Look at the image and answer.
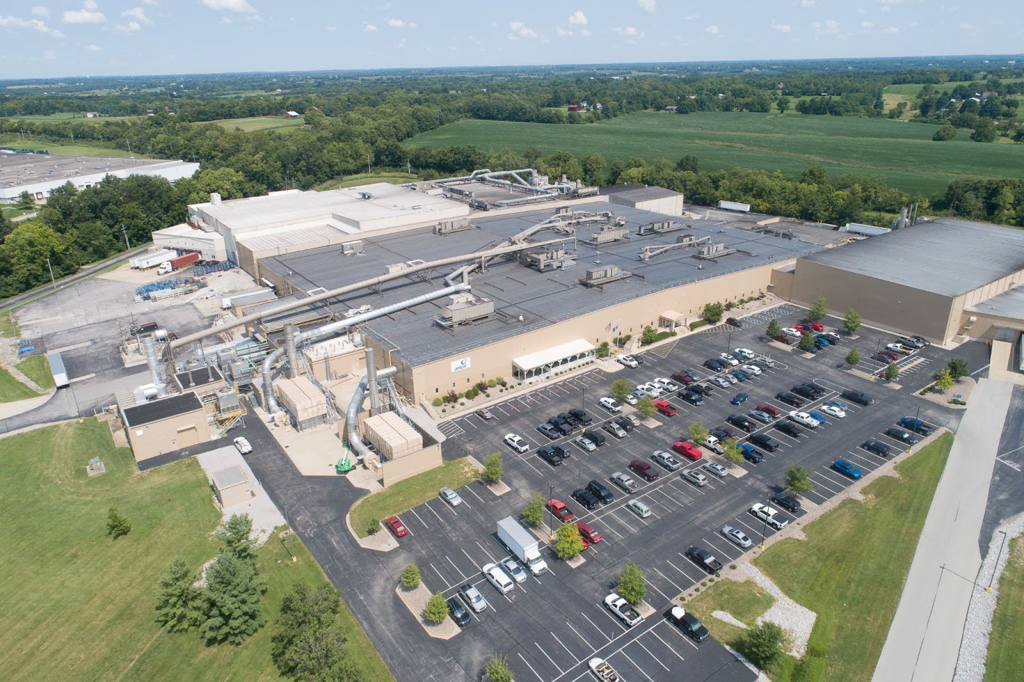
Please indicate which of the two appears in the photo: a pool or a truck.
truck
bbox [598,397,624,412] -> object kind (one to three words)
vehicle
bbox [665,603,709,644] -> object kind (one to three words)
truck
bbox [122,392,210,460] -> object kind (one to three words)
building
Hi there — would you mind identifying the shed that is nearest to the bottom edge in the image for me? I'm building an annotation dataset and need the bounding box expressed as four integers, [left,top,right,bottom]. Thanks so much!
[209,463,251,507]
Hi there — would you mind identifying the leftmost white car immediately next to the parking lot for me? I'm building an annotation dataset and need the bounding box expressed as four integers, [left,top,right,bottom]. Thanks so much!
[232,440,253,454]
